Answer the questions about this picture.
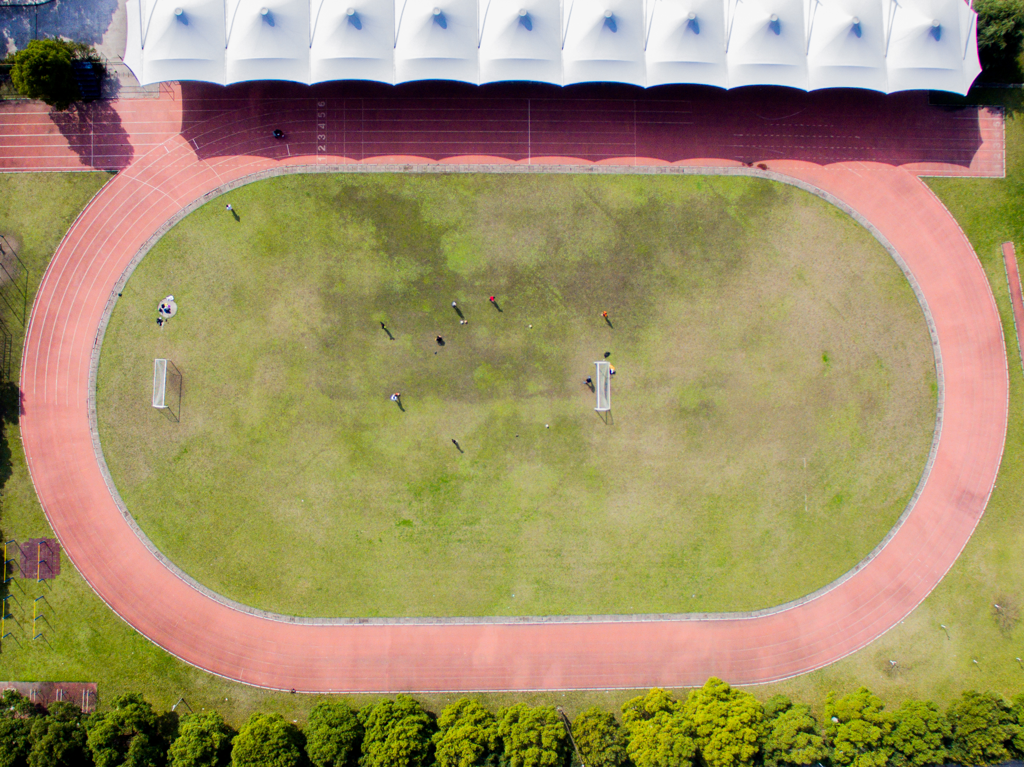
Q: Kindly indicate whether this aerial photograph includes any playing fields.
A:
Yes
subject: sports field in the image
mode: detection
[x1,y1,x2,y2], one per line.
[96,172,937,617]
